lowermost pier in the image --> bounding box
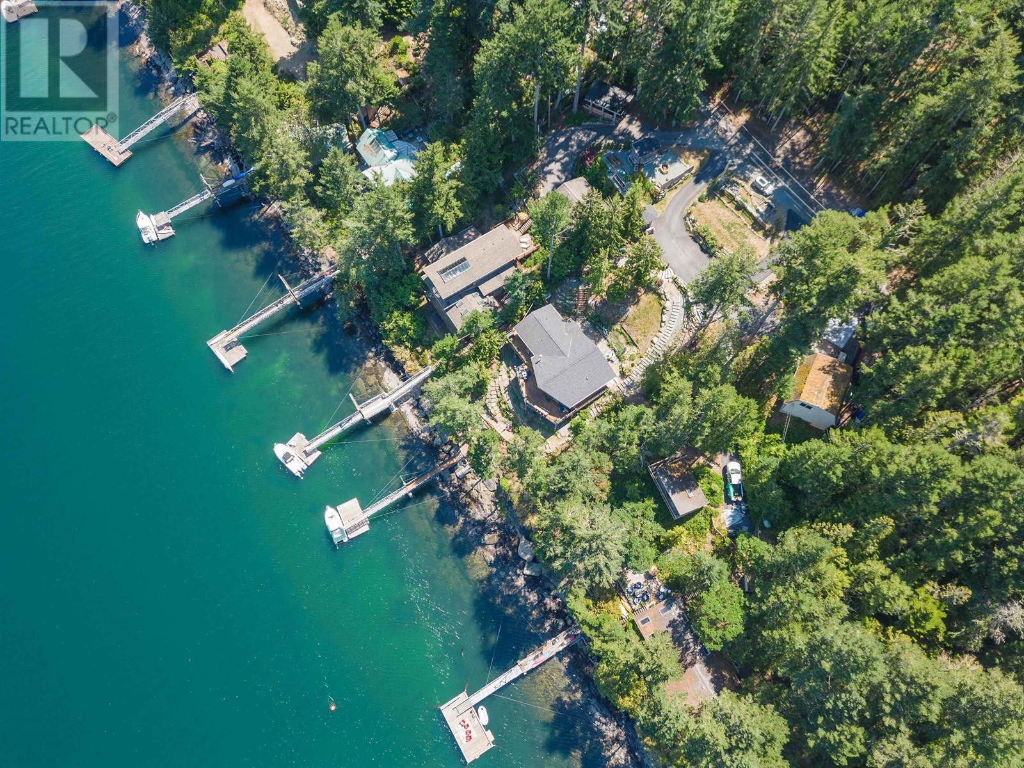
[440,691,494,764]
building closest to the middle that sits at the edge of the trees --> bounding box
[509,304,616,429]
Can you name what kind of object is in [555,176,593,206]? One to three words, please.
shed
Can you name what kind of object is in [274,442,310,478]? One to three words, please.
boat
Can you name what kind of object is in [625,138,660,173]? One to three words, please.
building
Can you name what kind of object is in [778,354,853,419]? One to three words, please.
house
